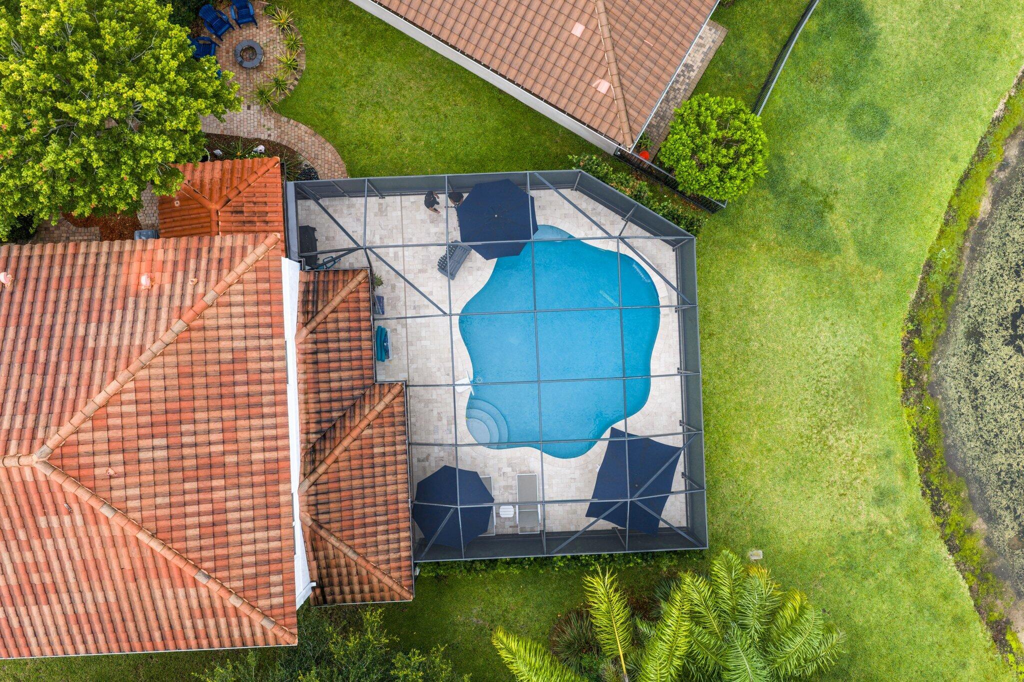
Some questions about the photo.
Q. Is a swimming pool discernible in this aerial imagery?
Yes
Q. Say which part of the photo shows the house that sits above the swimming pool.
top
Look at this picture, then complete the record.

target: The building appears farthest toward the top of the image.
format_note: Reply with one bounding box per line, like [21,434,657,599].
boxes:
[365,0,719,151]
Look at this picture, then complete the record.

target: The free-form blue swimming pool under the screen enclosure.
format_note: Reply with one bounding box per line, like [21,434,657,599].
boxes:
[451,215,669,467]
